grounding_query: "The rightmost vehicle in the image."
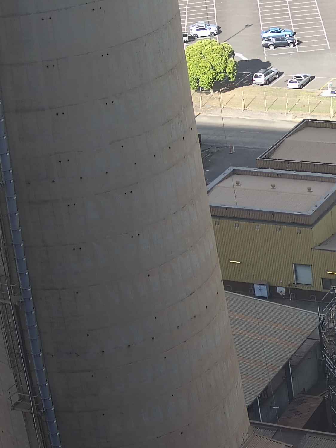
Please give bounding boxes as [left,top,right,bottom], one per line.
[289,72,312,86]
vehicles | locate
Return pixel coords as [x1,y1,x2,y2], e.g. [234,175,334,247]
[289,72,312,86]
[188,22,217,37]
[263,26,292,37]
[254,67,279,83]
[264,33,298,47]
